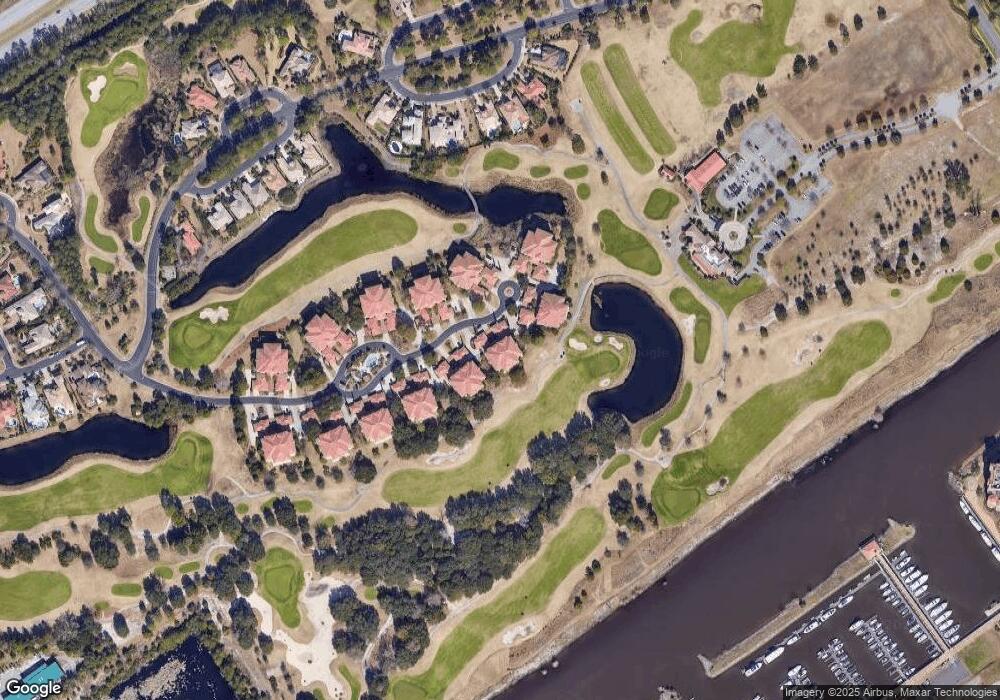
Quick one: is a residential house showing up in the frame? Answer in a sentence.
Yes, there's a residential house here.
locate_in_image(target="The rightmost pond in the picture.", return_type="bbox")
[588,283,682,420]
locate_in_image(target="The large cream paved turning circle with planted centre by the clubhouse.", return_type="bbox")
[719,221,748,250]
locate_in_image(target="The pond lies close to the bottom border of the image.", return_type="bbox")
[110,637,236,700]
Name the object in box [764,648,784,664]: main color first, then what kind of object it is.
white boat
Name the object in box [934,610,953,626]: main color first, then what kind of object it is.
white boat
